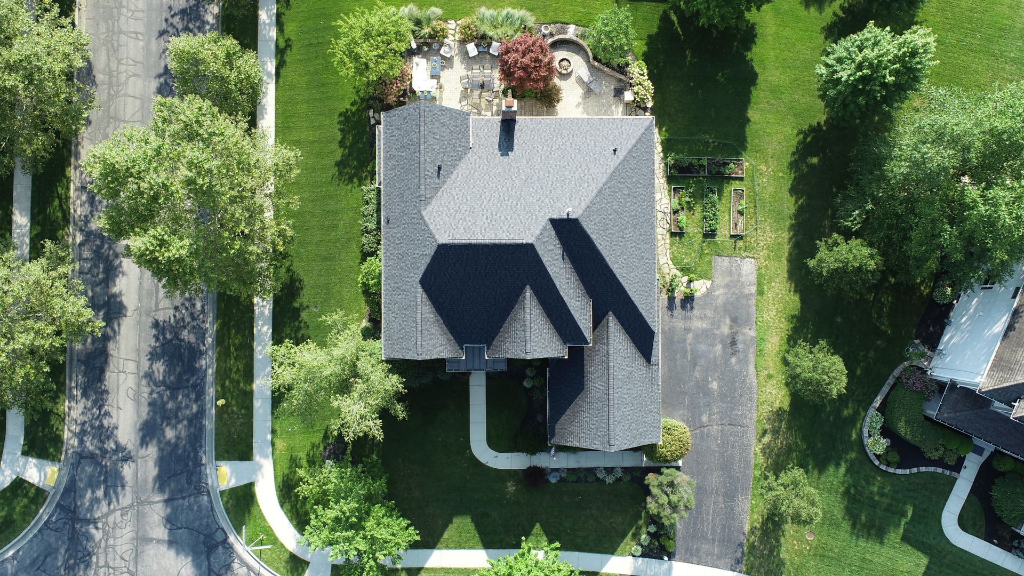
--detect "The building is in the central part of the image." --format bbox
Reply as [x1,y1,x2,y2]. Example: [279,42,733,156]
[375,98,663,454]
